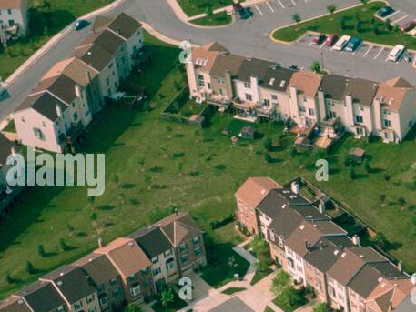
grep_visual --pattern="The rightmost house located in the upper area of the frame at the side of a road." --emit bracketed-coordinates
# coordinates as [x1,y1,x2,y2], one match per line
[370,76,416,144]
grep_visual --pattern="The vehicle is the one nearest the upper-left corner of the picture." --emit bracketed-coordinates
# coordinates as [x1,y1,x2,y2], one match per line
[72,16,91,29]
